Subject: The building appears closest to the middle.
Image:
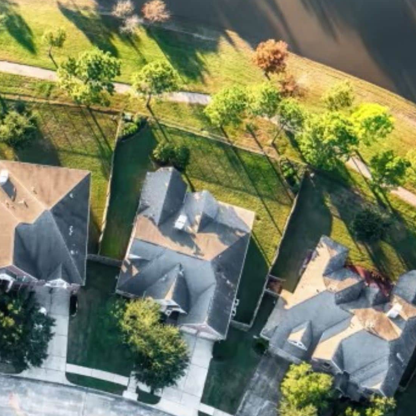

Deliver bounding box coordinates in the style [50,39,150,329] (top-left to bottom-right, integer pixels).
[116,167,255,346]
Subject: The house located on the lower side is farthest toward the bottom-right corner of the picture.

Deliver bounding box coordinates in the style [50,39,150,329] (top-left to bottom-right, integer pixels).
[259,235,416,406]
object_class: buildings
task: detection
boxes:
[116,167,255,346]
[0,160,91,295]
[259,235,416,406]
